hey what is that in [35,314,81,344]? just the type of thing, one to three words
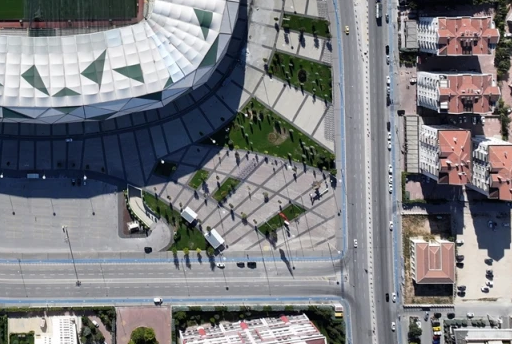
building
